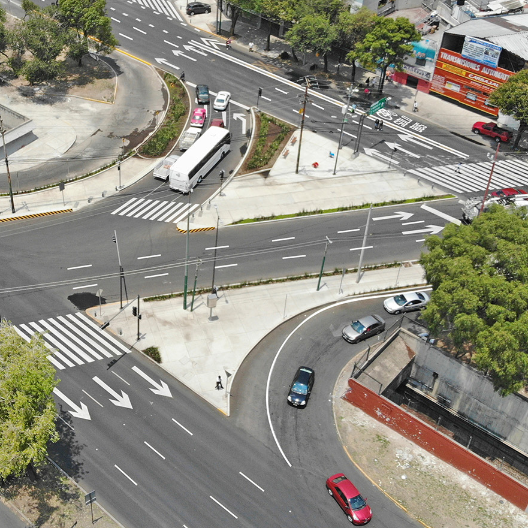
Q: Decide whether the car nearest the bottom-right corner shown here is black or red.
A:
red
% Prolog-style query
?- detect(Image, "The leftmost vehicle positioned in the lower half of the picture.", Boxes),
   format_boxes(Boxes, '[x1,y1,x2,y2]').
[286,366,316,411]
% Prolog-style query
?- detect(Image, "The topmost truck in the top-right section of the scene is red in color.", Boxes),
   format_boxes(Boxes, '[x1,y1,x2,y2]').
[468,122,517,145]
